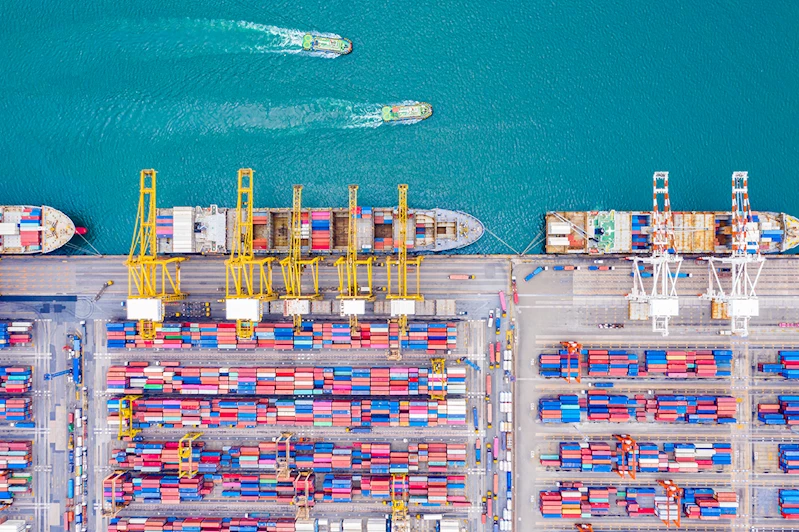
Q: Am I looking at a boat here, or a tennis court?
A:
boat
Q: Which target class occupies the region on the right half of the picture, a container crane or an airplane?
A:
container crane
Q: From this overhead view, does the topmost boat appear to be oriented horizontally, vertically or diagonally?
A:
horizontally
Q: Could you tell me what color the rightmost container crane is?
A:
white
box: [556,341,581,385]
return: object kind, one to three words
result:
container crane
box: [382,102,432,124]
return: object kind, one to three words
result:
boat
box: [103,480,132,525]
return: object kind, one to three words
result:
container crane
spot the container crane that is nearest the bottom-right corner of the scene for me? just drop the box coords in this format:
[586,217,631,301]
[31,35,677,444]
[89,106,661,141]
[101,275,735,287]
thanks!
[649,480,681,530]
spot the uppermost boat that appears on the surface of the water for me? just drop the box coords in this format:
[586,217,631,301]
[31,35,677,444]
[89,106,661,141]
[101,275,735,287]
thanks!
[301,34,353,55]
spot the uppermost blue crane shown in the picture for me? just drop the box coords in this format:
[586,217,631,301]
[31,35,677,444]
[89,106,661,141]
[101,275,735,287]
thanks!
[44,335,83,382]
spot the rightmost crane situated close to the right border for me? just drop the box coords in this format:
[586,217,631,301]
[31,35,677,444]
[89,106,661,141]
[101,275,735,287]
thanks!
[693,172,767,337]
